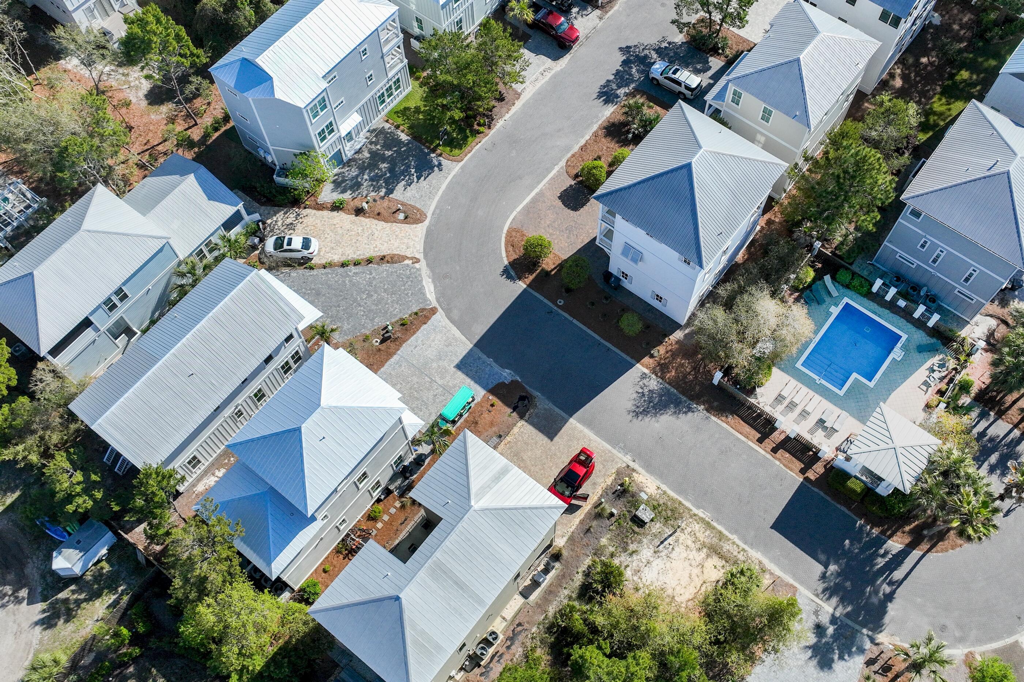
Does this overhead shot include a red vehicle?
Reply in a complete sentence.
Yes, the picture does show a red vehicle.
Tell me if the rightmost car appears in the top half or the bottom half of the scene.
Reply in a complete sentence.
The top half of the photo is where the rightmost car is.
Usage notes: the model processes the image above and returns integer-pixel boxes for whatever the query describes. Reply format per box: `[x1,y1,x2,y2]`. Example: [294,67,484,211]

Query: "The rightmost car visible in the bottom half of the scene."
[548,444,597,506]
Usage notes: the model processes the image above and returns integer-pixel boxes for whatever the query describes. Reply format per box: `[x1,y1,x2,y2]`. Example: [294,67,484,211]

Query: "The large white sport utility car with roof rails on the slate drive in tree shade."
[647,64,706,100]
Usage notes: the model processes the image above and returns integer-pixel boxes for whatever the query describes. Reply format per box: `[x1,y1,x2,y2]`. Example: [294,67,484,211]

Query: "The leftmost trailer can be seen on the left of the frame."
[59,519,120,584]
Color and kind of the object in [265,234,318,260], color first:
white car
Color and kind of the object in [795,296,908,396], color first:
blue swimming pool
